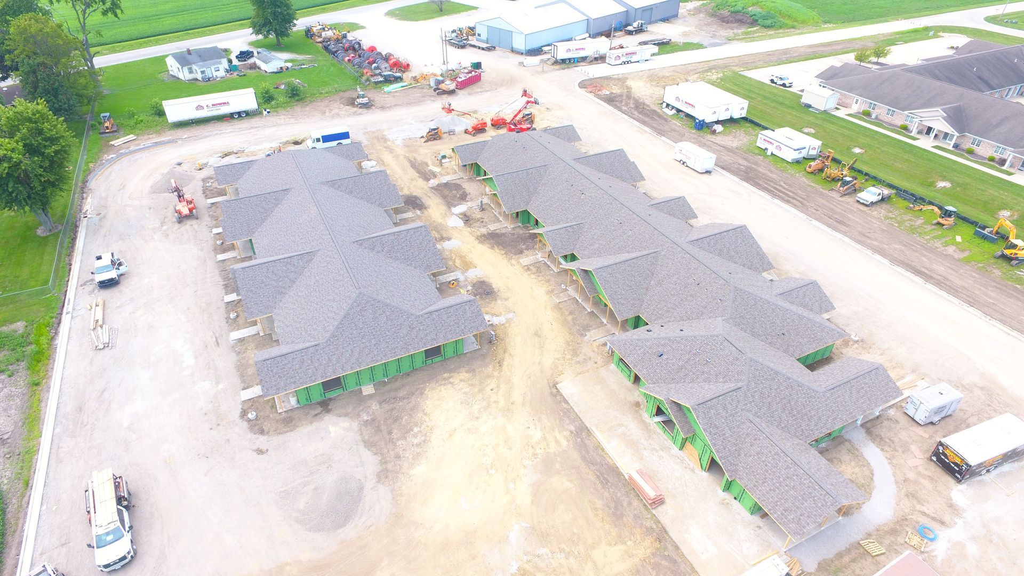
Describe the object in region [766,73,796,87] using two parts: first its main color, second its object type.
white vehicle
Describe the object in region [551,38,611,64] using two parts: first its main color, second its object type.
white trailer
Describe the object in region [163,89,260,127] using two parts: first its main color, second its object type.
white trailer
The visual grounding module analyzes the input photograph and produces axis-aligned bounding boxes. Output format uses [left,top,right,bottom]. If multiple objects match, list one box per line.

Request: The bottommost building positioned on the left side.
[212,141,490,413]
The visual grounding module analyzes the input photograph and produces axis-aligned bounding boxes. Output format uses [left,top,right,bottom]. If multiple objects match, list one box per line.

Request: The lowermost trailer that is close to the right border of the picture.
[931,403,1024,484]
